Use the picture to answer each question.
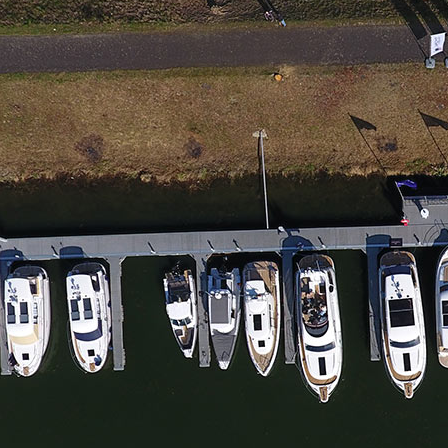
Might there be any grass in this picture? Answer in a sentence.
Yes, some grass is visible.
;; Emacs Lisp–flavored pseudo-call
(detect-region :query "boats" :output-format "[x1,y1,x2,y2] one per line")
[55,255,115,373]
[242,251,284,376]
[205,254,242,369]
[290,250,344,403]
[376,245,427,399]
[0,259,53,376]
[434,245,448,368]
[164,253,198,359]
